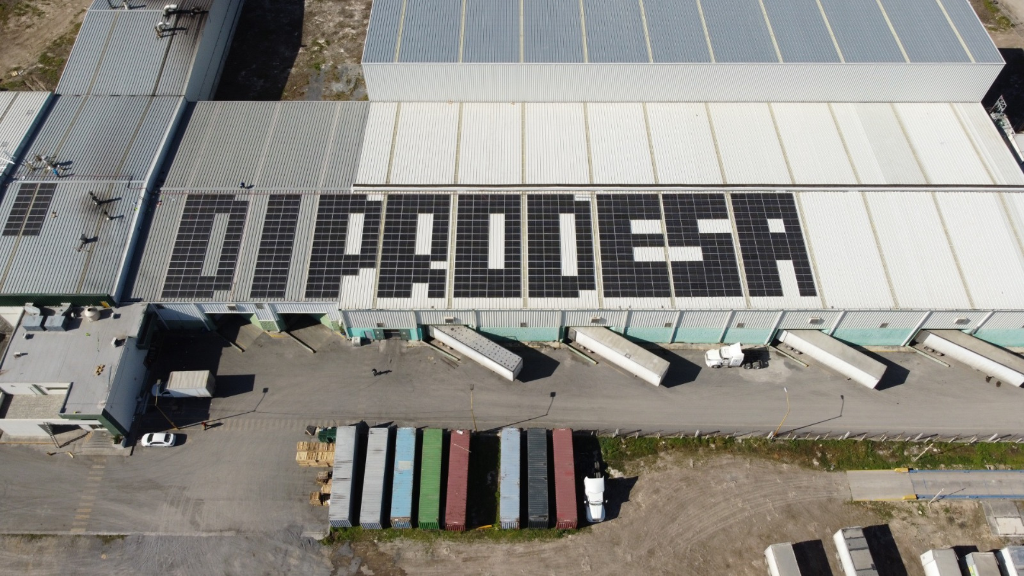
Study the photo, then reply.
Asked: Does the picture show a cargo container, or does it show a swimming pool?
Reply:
cargo container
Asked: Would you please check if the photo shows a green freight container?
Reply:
Yes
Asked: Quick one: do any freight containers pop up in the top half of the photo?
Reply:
No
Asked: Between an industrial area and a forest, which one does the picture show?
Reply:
industrial area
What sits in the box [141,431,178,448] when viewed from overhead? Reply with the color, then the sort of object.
white car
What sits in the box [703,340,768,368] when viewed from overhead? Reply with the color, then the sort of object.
white truck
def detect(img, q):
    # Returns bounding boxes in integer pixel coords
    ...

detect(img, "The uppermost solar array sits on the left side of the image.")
[1,184,56,237]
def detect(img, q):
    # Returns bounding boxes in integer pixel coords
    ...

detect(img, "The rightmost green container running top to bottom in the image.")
[419,430,444,529]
